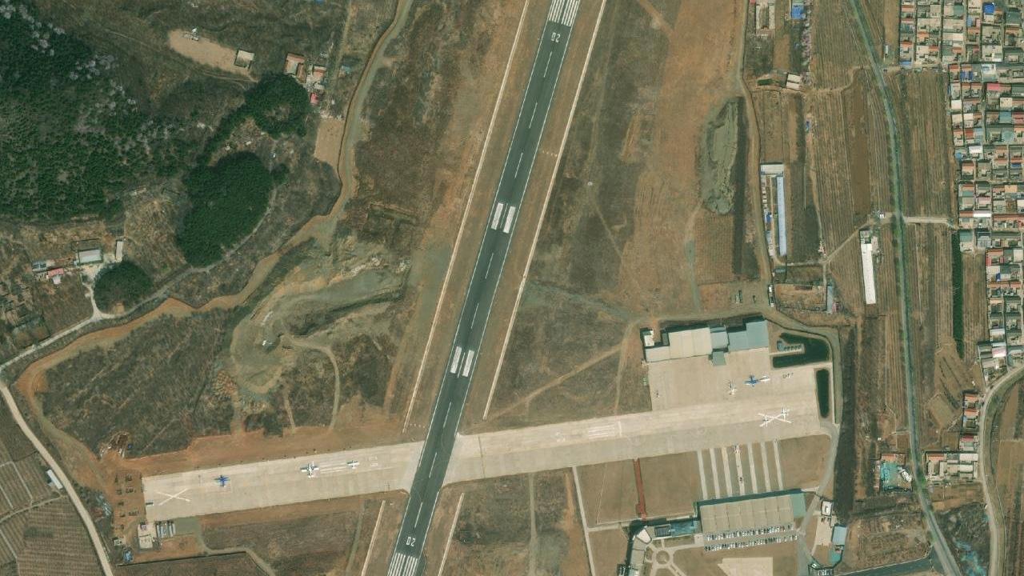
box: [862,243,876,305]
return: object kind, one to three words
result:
greenhouse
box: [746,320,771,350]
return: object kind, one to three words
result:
hangar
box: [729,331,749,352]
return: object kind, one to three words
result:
hangar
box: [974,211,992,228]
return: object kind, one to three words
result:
house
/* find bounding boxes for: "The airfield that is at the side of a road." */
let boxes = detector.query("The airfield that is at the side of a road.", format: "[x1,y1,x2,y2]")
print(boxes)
[143,0,832,576]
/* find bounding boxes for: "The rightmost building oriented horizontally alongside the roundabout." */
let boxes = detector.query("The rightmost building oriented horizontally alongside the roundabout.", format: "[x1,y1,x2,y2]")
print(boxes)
[700,495,795,535]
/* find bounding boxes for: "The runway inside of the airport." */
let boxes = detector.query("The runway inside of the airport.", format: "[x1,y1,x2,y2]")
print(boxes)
[387,0,581,576]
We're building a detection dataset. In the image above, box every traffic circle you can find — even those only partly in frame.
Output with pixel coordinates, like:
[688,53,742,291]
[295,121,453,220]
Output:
[644,539,704,576]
